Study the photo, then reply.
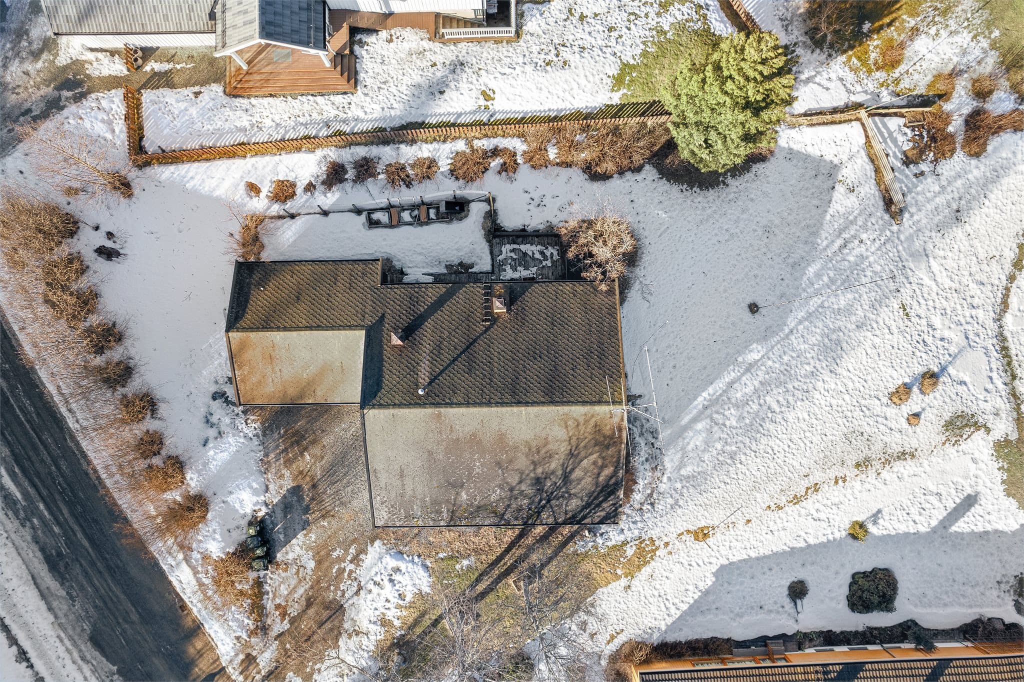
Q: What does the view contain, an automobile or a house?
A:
house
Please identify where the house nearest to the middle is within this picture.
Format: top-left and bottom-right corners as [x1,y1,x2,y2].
[223,258,629,529]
